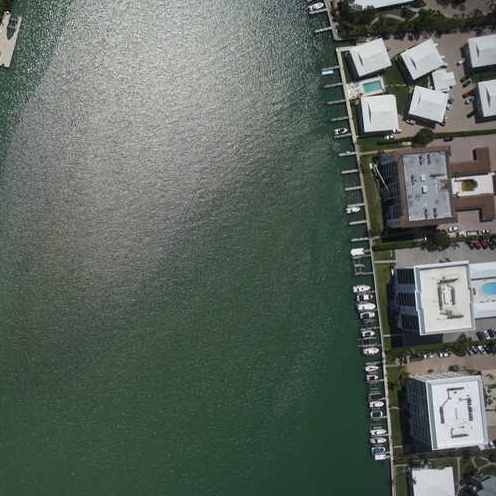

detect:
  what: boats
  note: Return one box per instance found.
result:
[368,429,387,435]
[364,375,379,380]
[370,446,386,453]
[373,454,390,461]
[345,207,360,212]
[356,294,373,300]
[307,3,324,10]
[356,303,376,310]
[362,348,379,355]
[368,438,386,444]
[369,411,383,418]
[360,330,375,338]
[364,366,379,371]
[318,69,334,75]
[349,248,364,255]
[351,285,371,292]
[359,312,375,319]
[332,127,349,134]
[368,401,384,407]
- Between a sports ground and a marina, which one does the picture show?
marina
